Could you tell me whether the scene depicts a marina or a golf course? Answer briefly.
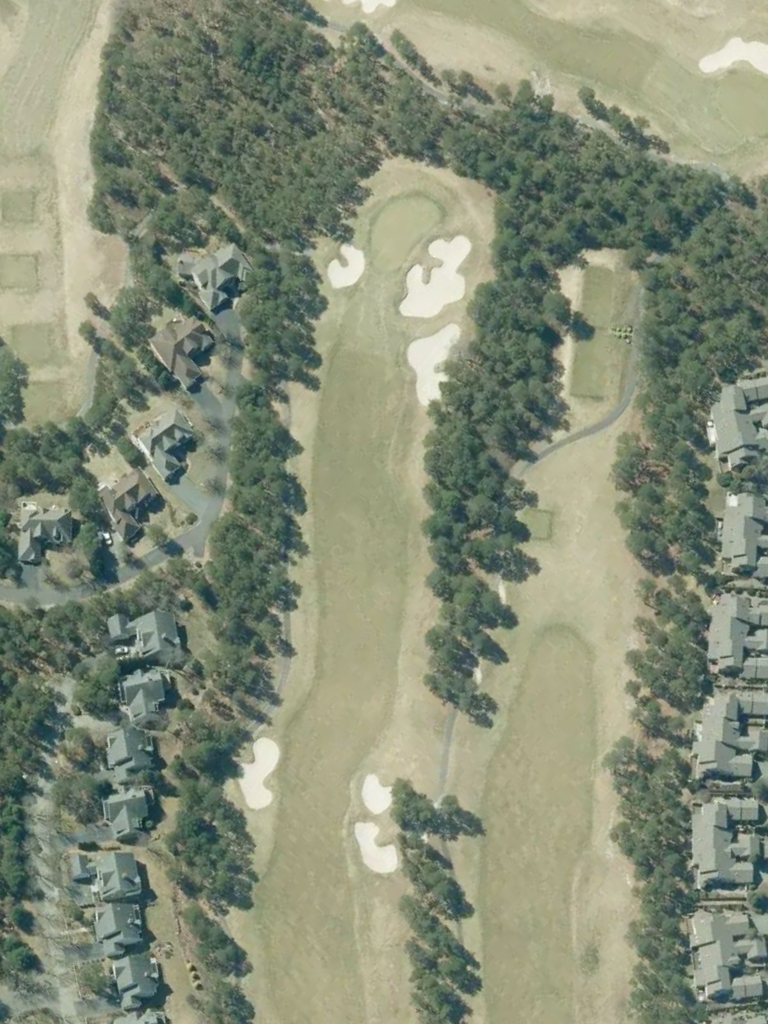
golf course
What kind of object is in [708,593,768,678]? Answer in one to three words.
house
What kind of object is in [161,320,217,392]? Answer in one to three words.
house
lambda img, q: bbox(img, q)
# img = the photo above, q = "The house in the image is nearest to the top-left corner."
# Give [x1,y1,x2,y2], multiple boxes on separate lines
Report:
[178,243,249,312]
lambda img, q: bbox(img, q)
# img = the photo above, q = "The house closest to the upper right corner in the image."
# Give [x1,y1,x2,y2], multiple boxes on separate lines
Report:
[707,377,768,466]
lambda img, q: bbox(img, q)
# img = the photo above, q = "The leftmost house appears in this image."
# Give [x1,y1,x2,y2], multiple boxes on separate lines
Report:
[18,501,72,563]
